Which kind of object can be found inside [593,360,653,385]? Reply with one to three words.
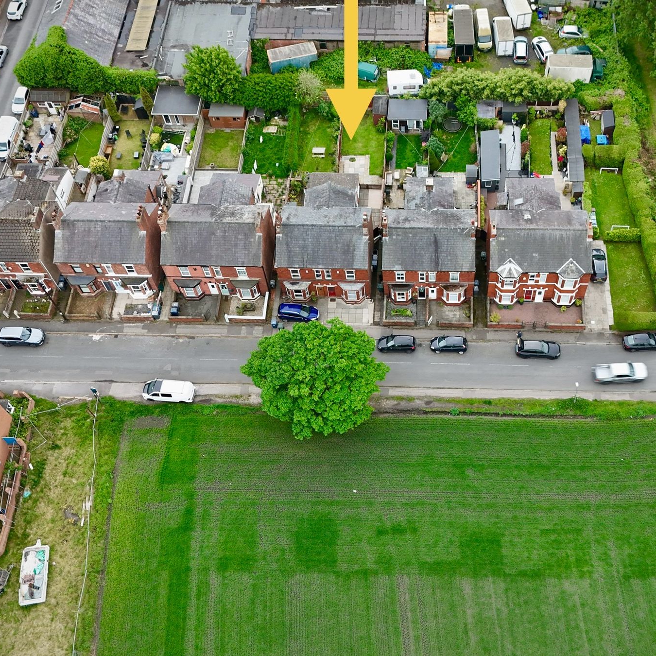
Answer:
truck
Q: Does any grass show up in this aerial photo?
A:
Yes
